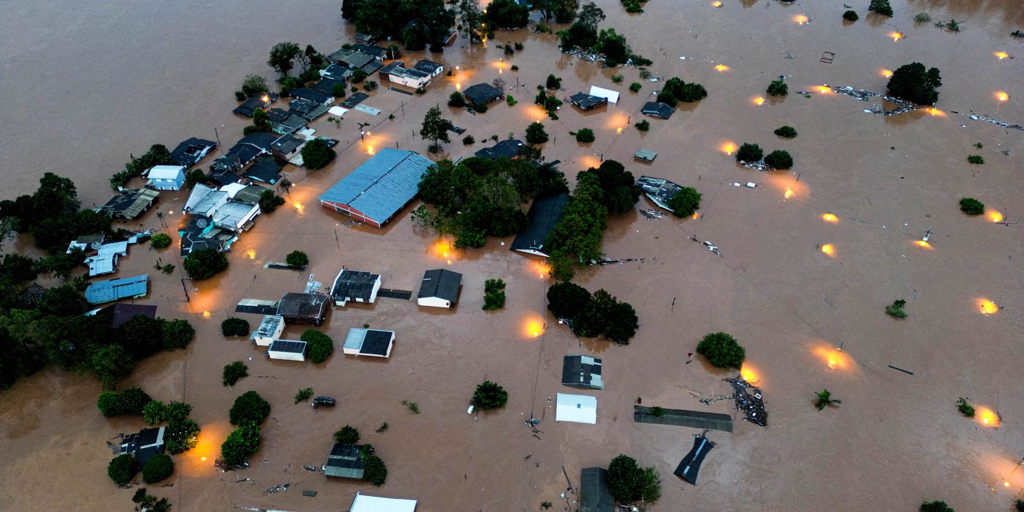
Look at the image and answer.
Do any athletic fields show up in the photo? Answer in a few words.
No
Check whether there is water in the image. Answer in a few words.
Yes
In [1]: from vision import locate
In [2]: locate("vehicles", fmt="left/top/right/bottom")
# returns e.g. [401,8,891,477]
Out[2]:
[313,398,336,408]
[464,403,477,417]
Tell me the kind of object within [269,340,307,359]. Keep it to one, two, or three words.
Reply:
house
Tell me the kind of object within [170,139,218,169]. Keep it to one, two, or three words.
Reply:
house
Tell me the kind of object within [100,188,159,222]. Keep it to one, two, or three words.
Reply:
building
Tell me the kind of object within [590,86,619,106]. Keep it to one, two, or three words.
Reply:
building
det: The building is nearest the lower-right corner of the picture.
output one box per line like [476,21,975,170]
[634,405,733,433]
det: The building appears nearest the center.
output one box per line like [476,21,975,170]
[510,193,566,259]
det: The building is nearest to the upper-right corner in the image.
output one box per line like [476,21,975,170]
[641,102,675,120]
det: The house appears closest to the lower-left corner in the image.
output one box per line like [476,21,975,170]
[136,427,167,451]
